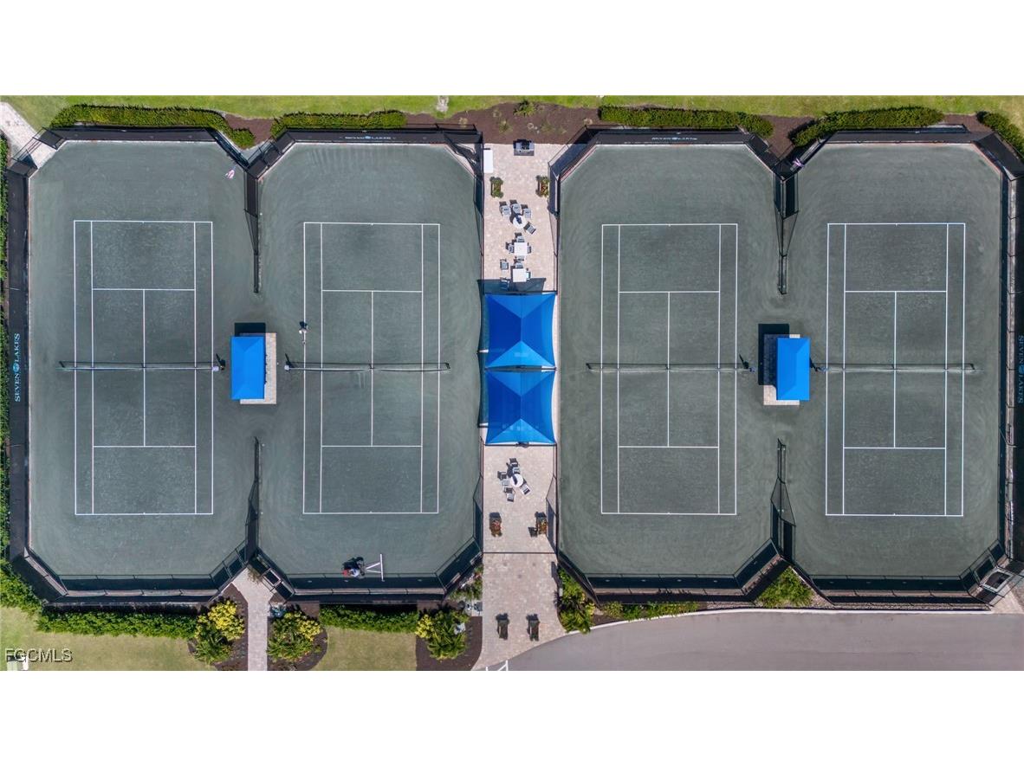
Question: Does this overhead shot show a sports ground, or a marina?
sports ground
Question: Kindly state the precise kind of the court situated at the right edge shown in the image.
tennis court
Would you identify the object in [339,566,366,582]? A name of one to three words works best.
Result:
work vehicle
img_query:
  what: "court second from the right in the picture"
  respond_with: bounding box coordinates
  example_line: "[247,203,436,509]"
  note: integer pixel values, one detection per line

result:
[560,142,784,593]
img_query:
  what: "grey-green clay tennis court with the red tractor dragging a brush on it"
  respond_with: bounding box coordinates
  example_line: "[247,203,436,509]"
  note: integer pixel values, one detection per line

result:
[257,142,483,592]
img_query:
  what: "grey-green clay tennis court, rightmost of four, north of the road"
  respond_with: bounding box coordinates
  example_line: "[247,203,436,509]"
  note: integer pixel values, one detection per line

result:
[783,141,1002,593]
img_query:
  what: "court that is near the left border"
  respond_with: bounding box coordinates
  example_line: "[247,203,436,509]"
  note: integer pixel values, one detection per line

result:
[26,140,257,593]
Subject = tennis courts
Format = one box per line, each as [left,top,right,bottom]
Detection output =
[26,140,257,593]
[783,141,1002,593]
[560,142,784,593]
[257,142,483,592]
